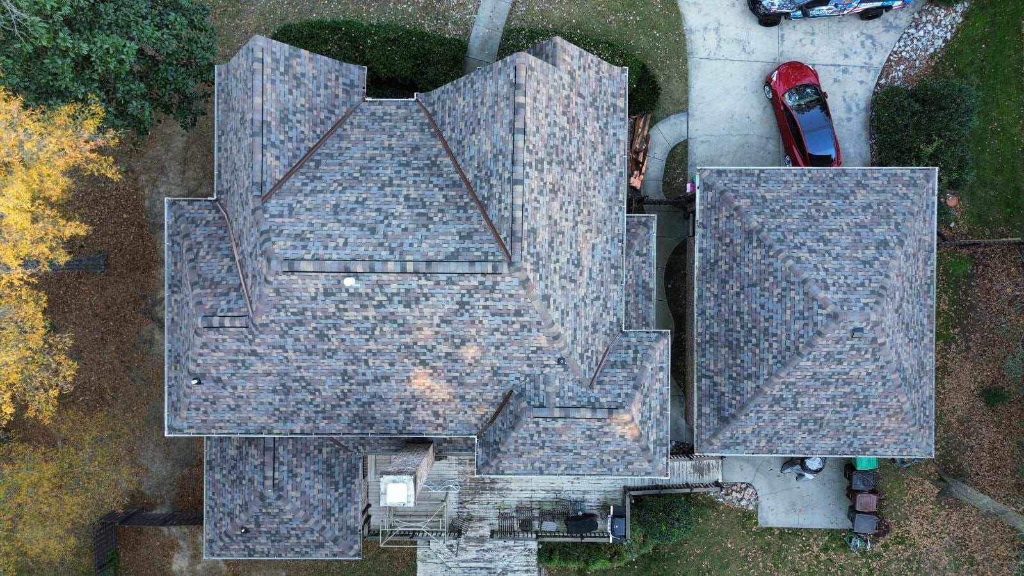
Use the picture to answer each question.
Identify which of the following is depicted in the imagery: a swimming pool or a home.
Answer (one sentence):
The image shows a home.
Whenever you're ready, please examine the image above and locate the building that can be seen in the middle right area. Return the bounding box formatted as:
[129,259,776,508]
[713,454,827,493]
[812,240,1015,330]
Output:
[688,167,937,457]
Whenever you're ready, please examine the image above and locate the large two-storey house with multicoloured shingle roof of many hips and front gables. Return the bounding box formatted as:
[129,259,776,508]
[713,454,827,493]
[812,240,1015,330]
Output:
[165,34,670,558]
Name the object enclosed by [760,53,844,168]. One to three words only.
car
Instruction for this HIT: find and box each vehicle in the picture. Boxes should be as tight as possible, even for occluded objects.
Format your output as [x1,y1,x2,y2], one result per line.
[743,0,915,26]
[760,53,844,168]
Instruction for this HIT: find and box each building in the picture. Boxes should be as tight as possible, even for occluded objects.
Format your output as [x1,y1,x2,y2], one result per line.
[165,34,670,558]
[688,167,937,457]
